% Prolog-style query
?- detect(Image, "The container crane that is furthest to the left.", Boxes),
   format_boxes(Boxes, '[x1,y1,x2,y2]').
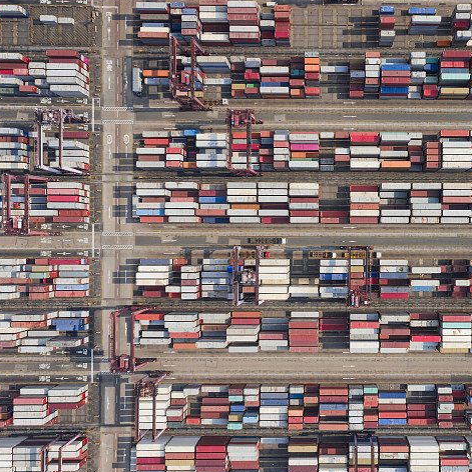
[2,169,63,234]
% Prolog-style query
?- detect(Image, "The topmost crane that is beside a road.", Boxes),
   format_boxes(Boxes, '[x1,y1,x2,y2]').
[170,31,215,109]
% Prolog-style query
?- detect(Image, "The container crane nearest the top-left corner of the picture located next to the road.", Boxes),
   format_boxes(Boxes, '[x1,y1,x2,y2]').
[37,105,94,177]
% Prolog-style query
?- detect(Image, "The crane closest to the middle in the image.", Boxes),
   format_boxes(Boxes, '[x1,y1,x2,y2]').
[232,243,272,308]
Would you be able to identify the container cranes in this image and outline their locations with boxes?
[347,429,375,472]
[170,31,215,109]
[41,428,92,472]
[232,243,272,308]
[342,244,371,308]
[226,106,263,177]
[109,302,159,371]
[37,105,94,177]
[134,370,178,445]
[2,169,63,234]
